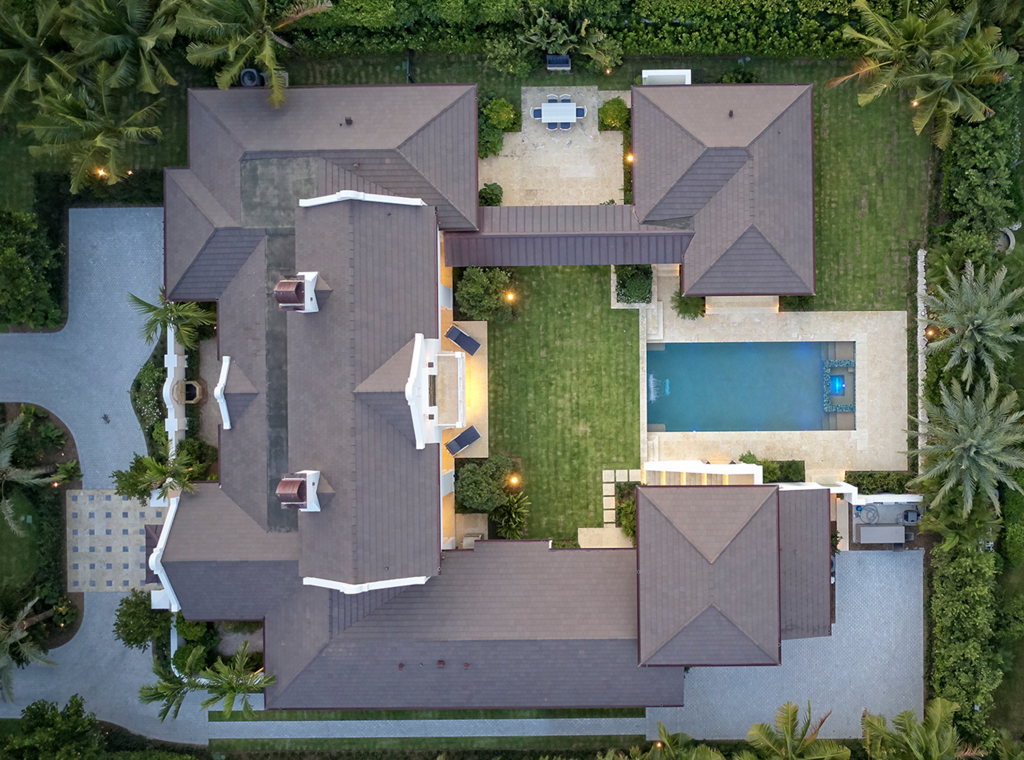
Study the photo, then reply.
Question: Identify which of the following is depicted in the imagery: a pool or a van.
pool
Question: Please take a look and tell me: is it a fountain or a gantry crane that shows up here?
fountain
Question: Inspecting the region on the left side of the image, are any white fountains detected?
No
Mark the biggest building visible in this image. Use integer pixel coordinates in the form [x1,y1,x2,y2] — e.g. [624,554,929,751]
[145,81,685,713]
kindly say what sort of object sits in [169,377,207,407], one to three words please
fountain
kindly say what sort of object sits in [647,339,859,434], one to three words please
swimming pool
